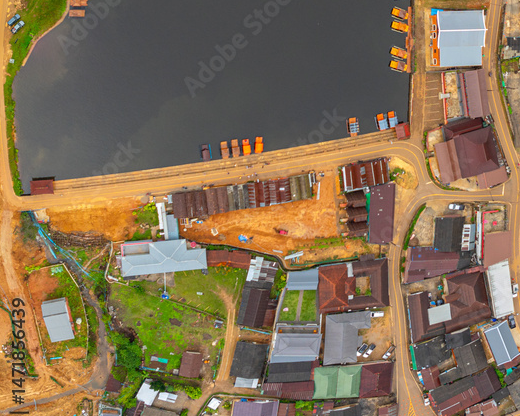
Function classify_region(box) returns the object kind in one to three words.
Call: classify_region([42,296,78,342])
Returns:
house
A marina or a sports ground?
marina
